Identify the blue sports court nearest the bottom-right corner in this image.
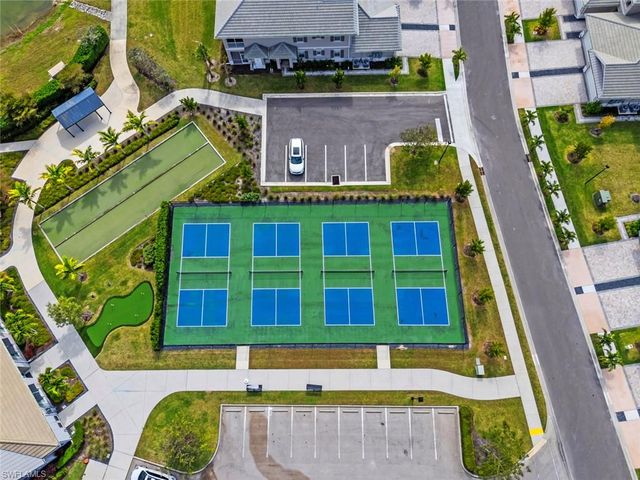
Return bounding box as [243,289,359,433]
[392,221,448,324]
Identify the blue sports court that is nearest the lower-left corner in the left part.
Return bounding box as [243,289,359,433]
[176,223,231,327]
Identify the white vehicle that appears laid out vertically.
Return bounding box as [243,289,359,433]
[288,138,306,176]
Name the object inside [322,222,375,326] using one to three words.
sports court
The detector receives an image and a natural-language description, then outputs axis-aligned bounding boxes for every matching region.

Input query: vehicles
[288,138,306,176]
[128,466,178,480]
